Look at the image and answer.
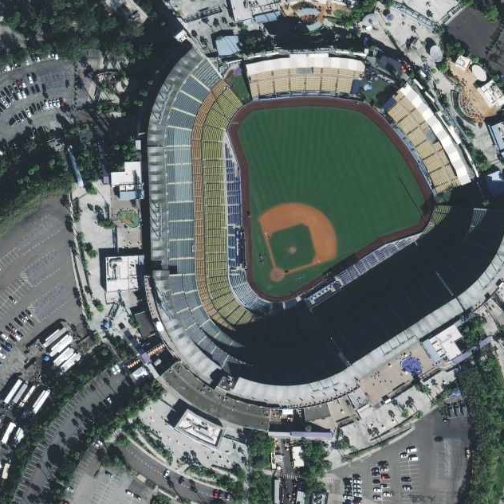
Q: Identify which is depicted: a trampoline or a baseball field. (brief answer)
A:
baseball field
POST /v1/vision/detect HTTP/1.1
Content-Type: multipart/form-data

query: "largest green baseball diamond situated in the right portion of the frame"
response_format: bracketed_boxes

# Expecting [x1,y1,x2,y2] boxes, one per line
[227,97,435,303]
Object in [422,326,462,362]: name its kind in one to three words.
building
